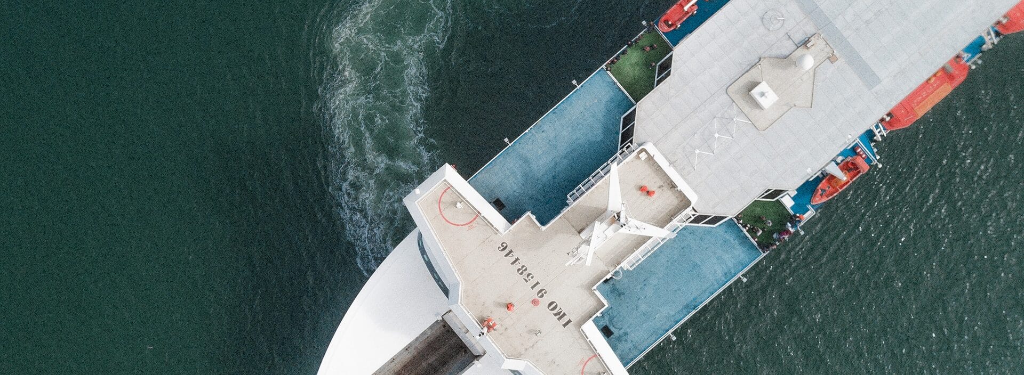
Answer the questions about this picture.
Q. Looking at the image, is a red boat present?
Yes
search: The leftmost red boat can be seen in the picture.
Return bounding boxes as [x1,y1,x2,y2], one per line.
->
[658,0,703,33]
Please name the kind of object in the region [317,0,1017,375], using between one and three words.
ship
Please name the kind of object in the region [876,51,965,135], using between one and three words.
boat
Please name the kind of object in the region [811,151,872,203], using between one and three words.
boat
